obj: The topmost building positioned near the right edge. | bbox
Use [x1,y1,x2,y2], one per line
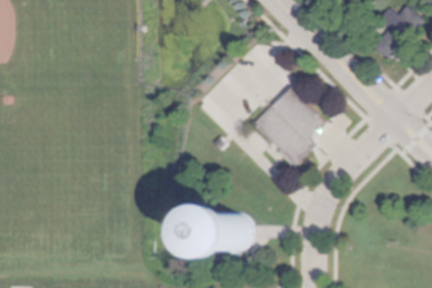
[384,3,428,28]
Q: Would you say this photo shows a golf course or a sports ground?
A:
sports ground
